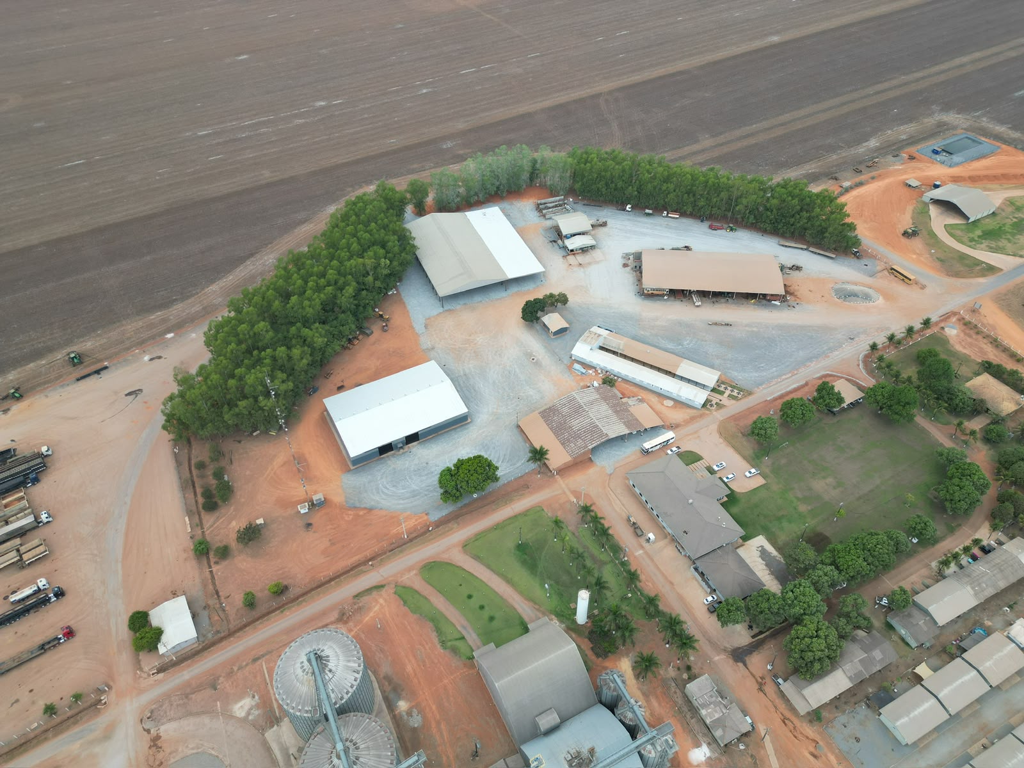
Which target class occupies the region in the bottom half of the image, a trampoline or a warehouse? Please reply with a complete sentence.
You can see a warehouse in the bottom half of the image.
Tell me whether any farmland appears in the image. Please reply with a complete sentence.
Yes, farmland shows up in the scene.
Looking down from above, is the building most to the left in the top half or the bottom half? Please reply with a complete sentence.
Seen from above, the building most to the left lies in the bottom half of the view.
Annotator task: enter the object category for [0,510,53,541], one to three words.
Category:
truck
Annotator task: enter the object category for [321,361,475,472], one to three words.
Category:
building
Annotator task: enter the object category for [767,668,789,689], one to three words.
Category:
vehicle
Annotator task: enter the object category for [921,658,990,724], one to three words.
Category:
house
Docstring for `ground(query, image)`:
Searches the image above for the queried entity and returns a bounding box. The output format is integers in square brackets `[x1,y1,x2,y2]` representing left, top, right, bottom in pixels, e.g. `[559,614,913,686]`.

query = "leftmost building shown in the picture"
[149,596,202,662]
